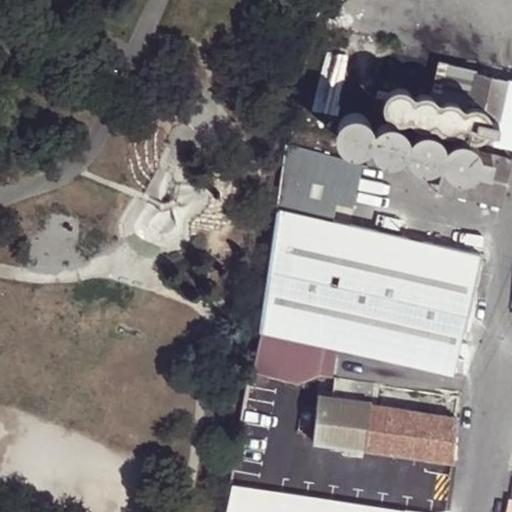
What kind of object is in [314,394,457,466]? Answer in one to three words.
house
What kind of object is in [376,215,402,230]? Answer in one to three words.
vehicle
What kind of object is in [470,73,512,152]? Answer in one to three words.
building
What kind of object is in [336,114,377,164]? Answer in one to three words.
silo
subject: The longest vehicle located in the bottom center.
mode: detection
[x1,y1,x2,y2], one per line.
[244,411,279,428]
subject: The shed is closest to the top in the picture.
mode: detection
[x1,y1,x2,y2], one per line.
[436,61,478,91]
